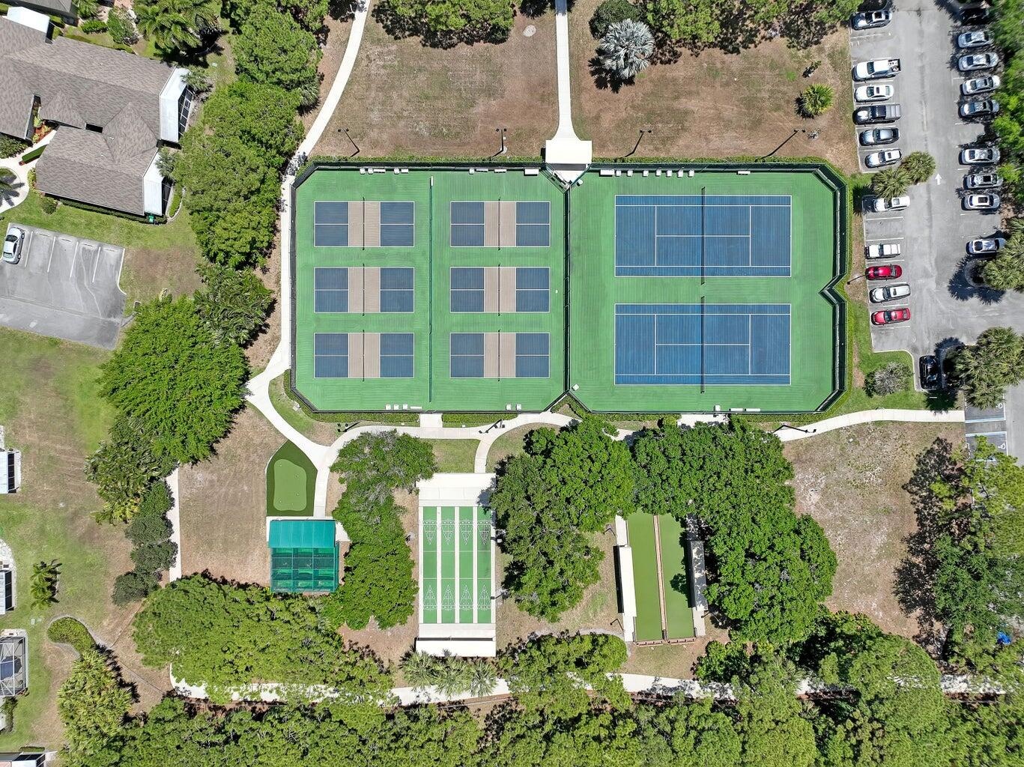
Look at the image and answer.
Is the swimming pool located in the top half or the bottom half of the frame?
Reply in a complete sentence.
It is in the bottom half that the swimming pool appears.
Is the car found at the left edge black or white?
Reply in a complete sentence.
In this view, the car found at the left edge is white.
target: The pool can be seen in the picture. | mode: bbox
[0,656,21,678]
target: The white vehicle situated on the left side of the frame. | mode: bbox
[2,226,27,263]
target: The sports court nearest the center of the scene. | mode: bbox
[450,333,550,378]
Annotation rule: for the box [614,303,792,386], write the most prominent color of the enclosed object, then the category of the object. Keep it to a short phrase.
blue tennis court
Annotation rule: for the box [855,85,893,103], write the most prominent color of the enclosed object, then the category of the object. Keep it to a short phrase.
white car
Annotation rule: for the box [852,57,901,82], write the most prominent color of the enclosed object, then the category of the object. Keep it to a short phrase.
white truck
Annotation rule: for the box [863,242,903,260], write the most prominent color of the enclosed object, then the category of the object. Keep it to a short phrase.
white car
